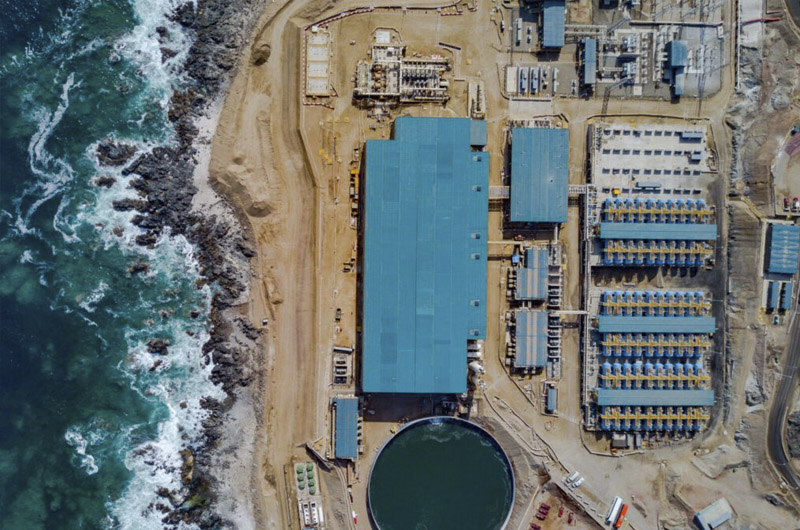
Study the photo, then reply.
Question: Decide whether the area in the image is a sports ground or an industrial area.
industrial area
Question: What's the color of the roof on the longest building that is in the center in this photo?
blue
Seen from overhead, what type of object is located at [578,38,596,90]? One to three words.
building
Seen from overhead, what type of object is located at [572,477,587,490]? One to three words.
vehicle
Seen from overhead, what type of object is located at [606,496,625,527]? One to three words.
vehicle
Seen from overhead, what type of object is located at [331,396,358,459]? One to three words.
shed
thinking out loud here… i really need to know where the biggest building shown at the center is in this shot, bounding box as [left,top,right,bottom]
[363,116,489,393]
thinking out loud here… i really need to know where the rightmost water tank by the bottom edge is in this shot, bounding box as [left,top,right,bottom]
[368,405,515,530]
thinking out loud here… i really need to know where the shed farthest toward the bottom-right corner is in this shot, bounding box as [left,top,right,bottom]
[691,496,733,530]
